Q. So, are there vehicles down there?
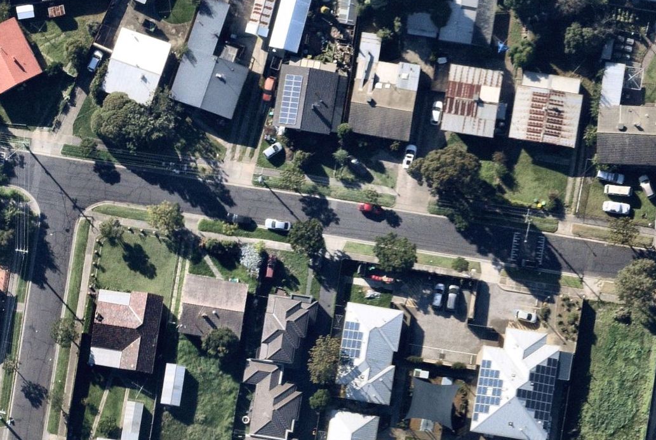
Yes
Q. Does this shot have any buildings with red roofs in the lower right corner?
No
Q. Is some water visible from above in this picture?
No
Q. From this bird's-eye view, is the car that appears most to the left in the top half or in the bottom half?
top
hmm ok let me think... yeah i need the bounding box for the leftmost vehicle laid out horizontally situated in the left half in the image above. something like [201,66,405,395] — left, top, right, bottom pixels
[226,213,252,227]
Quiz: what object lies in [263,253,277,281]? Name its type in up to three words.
vehicle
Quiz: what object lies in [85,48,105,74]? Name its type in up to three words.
car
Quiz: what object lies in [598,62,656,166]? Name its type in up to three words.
house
